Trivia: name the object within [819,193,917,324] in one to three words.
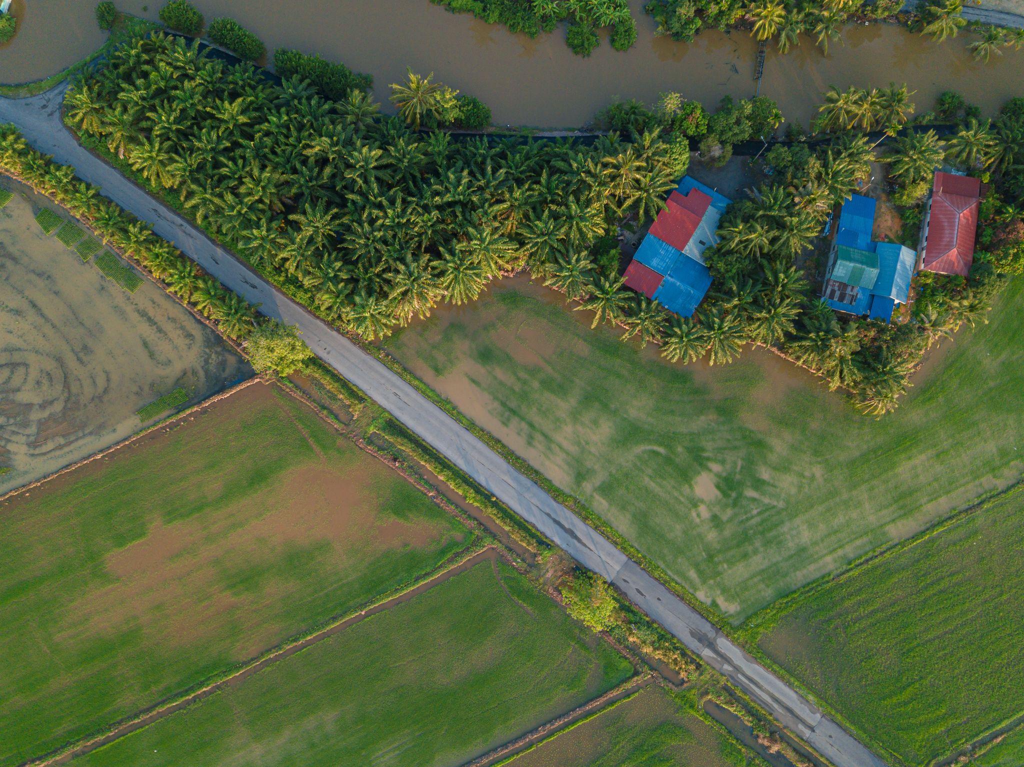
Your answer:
house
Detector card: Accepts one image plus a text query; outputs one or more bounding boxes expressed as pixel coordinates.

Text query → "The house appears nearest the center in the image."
[622,173,726,317]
